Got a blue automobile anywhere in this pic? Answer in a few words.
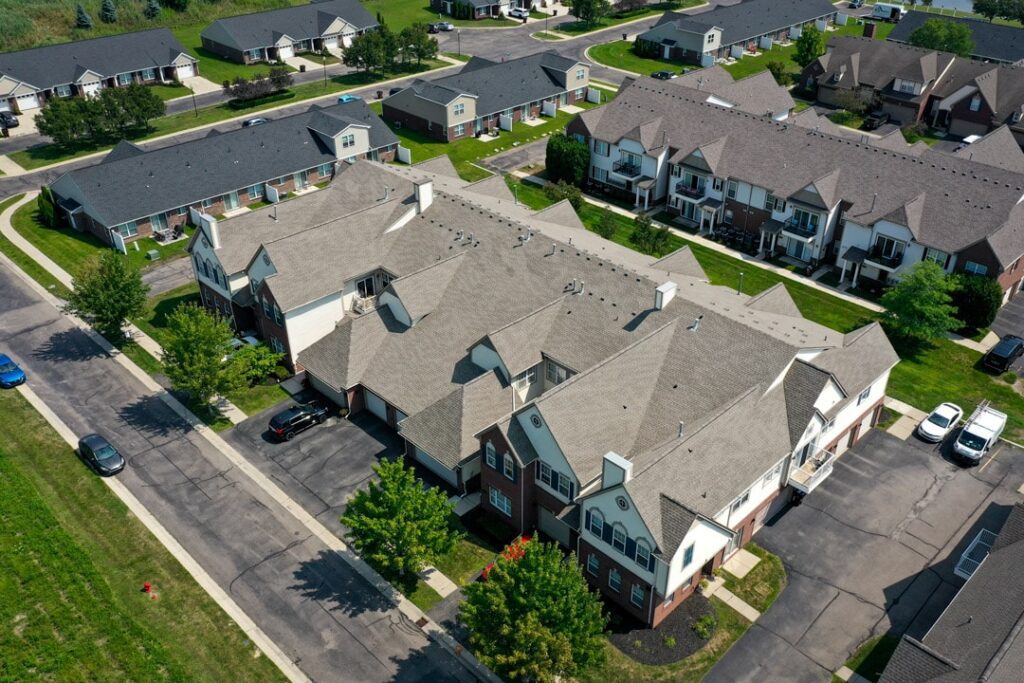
Yes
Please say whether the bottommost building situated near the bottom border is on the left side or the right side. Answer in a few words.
right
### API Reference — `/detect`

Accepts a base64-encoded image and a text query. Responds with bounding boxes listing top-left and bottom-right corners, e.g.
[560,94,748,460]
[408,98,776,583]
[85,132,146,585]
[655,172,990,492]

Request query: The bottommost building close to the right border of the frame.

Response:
[869,473,1024,683]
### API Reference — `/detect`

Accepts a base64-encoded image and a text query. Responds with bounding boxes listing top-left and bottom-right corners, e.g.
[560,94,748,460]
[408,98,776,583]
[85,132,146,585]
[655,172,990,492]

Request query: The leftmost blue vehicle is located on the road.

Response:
[0,350,26,384]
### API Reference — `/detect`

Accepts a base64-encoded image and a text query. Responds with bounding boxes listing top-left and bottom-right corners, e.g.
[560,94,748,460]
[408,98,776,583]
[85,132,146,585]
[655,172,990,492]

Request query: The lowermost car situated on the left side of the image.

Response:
[73,431,121,472]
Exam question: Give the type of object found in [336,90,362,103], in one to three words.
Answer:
vehicle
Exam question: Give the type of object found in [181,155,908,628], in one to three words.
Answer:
building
